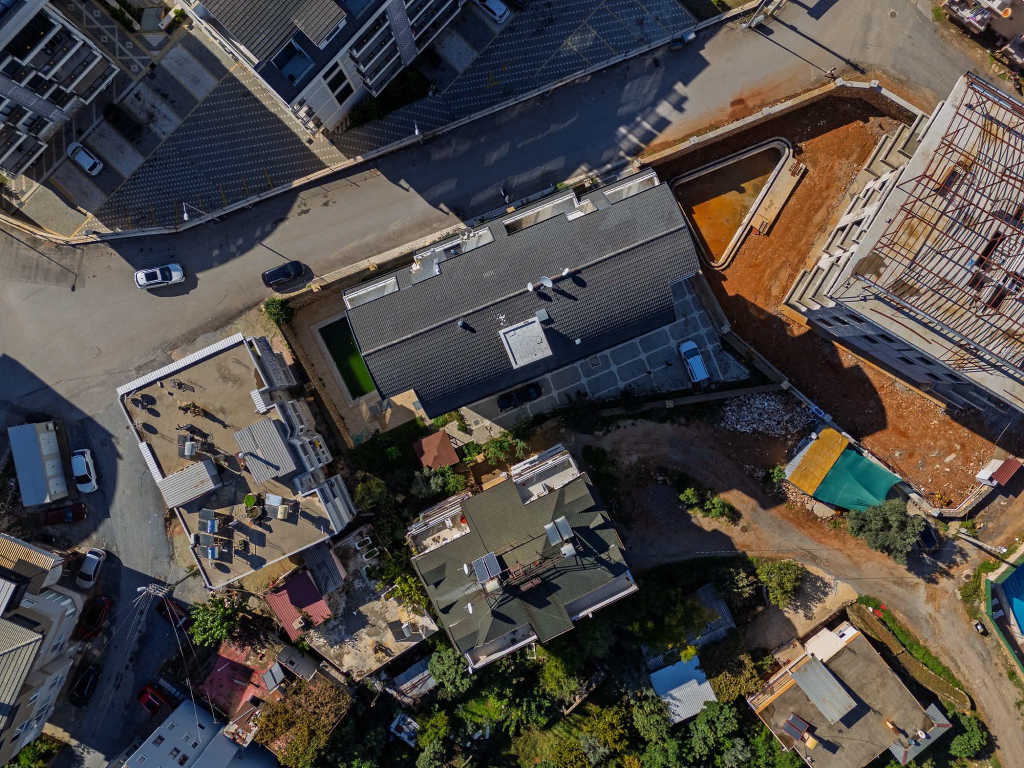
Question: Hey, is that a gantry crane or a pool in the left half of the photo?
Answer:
pool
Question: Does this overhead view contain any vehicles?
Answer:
Yes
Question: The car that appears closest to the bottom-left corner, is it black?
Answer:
Yes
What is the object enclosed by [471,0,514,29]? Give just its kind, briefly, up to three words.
car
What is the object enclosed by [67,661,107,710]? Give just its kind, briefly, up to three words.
car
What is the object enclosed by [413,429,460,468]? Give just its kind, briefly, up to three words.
gazebo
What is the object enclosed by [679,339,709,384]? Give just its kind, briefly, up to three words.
vehicle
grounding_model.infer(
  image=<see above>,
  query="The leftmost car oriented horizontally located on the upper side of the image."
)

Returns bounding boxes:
[134,262,185,289]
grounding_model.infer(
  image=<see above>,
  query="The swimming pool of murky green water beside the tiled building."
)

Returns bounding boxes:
[314,312,379,404]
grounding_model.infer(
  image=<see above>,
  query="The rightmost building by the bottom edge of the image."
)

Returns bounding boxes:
[746,607,952,768]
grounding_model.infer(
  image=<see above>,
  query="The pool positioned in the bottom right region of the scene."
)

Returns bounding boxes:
[978,537,1024,687]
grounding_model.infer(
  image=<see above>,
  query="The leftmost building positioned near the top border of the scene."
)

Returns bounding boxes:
[0,0,121,179]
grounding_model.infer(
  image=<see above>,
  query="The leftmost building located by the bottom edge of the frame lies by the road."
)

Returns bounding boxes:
[0,534,95,768]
